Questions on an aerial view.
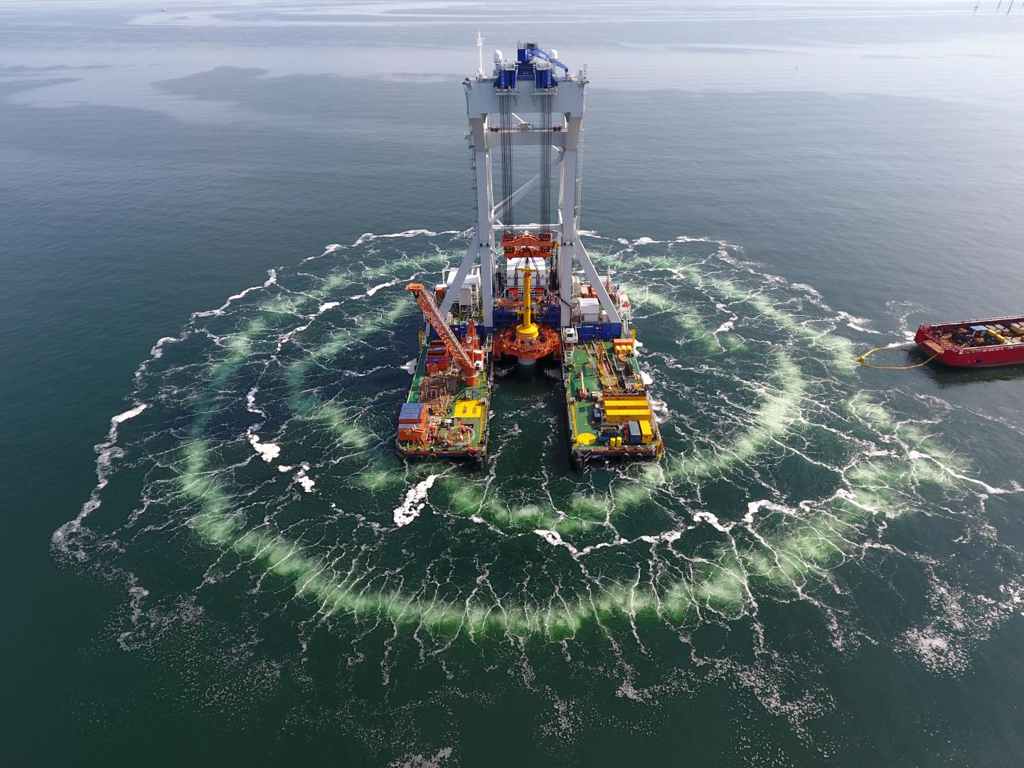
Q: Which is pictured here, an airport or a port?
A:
port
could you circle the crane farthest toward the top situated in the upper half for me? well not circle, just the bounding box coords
[518,39,570,77]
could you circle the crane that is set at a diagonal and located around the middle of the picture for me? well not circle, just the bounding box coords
[398,285,486,386]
